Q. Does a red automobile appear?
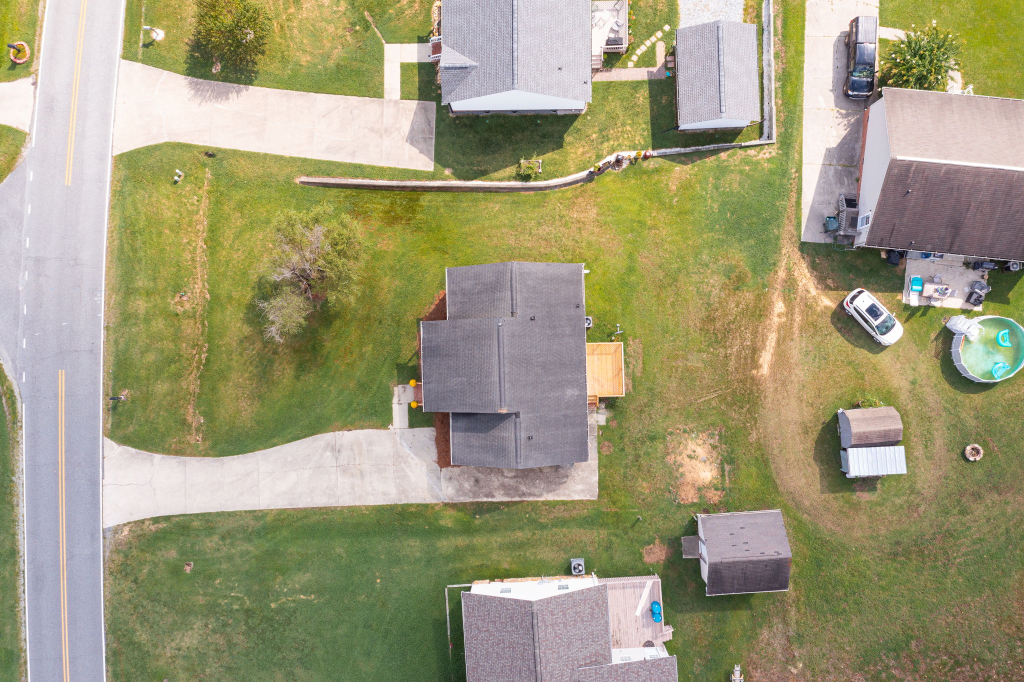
No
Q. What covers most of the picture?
grass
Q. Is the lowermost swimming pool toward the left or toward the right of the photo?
right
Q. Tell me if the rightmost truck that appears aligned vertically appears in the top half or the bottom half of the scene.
top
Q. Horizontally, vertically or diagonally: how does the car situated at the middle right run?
diagonally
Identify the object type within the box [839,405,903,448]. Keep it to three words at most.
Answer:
shed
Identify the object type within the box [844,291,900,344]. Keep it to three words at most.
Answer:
car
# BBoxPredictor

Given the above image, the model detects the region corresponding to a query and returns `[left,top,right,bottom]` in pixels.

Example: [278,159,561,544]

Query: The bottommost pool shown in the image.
[948,315,1024,382]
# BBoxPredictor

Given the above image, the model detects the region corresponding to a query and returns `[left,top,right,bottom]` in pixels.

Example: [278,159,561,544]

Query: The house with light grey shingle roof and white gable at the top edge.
[427,0,593,117]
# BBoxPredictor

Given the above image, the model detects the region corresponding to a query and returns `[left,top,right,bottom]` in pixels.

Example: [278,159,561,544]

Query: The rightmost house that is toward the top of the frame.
[854,84,1024,263]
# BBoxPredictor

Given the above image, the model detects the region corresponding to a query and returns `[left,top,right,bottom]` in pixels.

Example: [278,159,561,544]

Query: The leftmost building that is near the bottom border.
[460,576,678,682]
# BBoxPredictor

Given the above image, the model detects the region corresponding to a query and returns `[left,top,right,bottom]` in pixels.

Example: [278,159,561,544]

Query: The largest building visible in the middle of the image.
[416,262,591,468]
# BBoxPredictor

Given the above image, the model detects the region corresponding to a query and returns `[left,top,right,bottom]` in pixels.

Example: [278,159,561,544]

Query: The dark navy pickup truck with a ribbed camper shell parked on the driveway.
[841,17,878,101]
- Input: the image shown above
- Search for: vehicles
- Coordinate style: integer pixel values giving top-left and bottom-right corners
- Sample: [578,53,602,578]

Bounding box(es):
[841,17,878,101]
[844,291,900,344]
